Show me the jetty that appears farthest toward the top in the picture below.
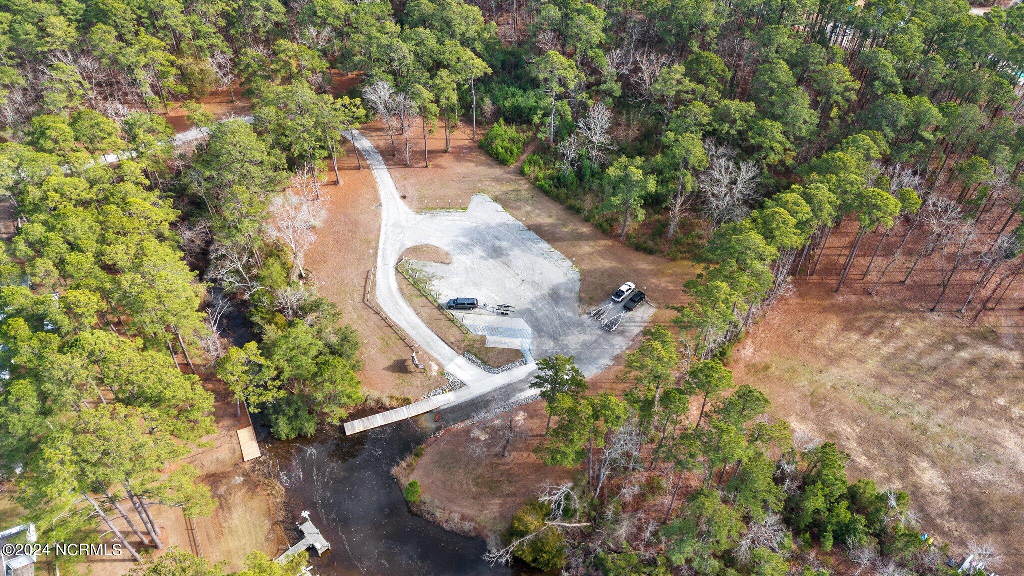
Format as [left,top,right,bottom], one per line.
[345,397,440,437]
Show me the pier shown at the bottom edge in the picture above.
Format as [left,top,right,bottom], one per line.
[263,519,331,573]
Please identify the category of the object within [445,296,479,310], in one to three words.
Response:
vehicle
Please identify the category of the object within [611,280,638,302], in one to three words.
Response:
truck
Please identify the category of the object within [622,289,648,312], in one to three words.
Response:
truck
